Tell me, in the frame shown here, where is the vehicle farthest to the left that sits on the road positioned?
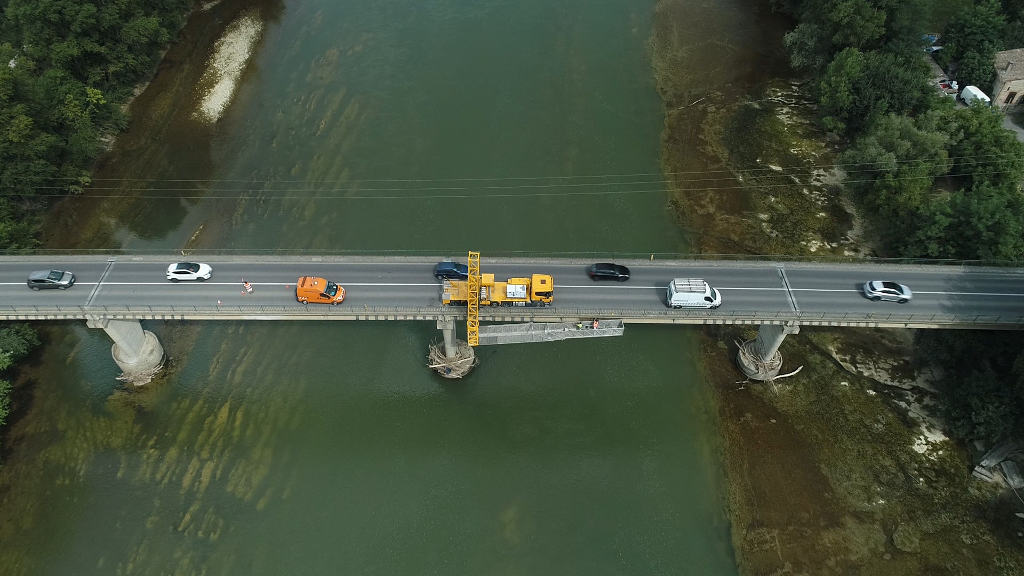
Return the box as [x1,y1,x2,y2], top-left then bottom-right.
[27,267,79,288]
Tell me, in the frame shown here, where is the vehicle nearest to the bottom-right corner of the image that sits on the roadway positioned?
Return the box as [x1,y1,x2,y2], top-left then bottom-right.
[862,278,912,301]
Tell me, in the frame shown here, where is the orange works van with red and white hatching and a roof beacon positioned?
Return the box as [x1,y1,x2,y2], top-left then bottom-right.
[293,274,349,303]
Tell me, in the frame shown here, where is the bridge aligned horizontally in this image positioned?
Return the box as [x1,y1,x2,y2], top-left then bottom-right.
[0,253,1024,383]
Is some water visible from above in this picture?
Yes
